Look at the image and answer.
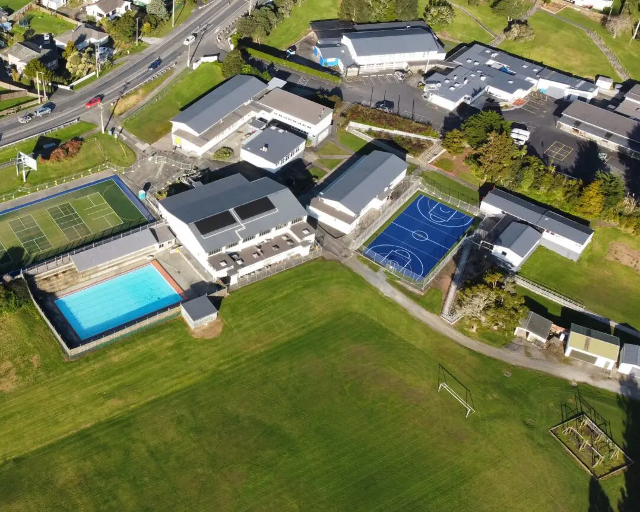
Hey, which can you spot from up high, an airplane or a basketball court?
basketball court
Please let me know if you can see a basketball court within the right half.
Yes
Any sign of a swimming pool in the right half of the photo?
No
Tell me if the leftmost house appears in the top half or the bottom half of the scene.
top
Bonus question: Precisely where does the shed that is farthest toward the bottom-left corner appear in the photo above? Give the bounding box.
[181,295,219,331]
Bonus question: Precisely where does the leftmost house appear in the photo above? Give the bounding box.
[0,41,50,79]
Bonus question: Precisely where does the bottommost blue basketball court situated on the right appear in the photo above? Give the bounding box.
[365,195,479,278]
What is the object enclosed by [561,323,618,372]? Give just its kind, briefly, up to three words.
shed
